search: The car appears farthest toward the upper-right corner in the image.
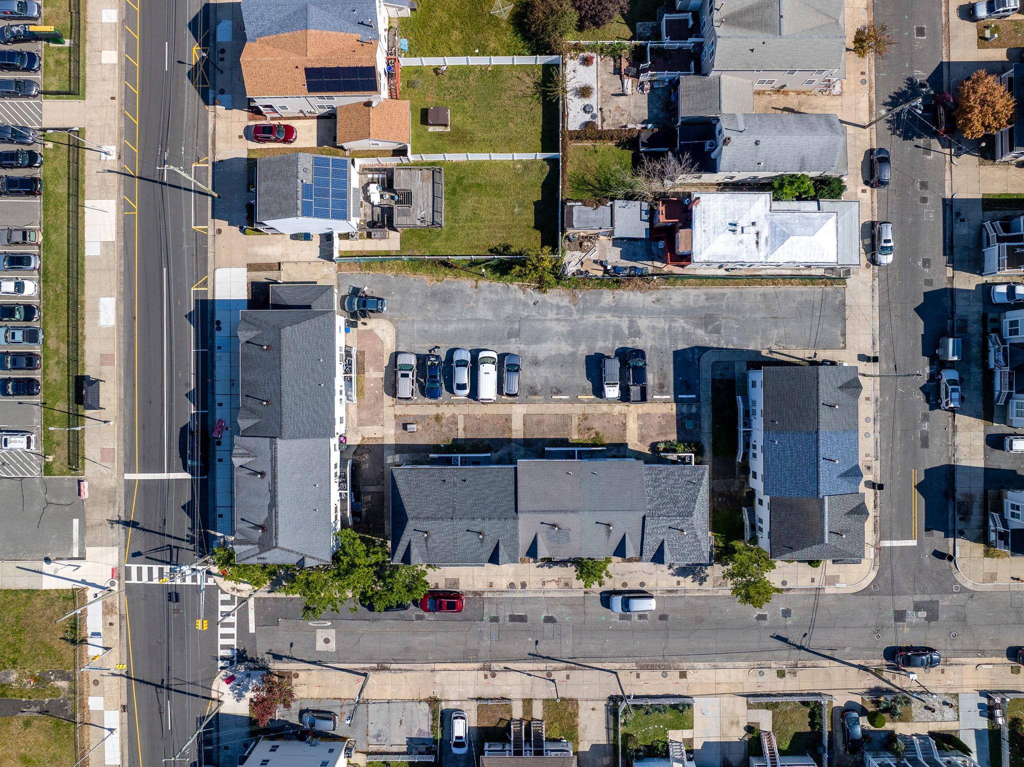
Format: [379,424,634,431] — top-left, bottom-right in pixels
[969,0,1019,23]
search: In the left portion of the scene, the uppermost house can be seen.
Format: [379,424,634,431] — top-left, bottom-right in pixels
[238,0,412,121]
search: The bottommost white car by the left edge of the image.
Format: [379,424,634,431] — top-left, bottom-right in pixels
[0,431,41,453]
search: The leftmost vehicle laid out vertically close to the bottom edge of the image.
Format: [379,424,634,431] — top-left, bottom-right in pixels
[448,705,471,755]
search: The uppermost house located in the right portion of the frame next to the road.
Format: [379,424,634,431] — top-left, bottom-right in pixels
[636,0,848,95]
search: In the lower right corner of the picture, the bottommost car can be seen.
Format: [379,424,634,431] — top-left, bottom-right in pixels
[839,707,864,754]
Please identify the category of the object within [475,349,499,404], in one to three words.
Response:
vehicle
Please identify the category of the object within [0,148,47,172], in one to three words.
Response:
car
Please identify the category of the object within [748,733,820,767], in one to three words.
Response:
house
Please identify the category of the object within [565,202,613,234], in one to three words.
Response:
shed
